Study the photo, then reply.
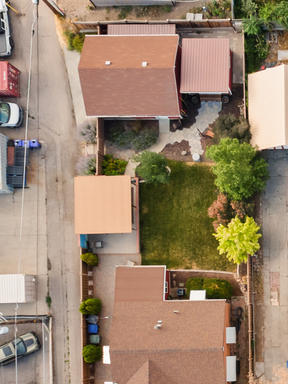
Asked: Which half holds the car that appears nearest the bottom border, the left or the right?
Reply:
left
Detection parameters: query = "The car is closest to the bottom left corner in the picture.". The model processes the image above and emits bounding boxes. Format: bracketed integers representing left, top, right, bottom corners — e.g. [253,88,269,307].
[0,330,44,367]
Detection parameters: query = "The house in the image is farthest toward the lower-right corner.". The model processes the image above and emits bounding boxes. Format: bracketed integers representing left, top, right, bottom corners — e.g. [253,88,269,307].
[103,266,236,384]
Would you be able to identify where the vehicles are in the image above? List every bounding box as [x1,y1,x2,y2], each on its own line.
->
[0,330,44,367]
[0,0,15,60]
[0,100,25,129]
